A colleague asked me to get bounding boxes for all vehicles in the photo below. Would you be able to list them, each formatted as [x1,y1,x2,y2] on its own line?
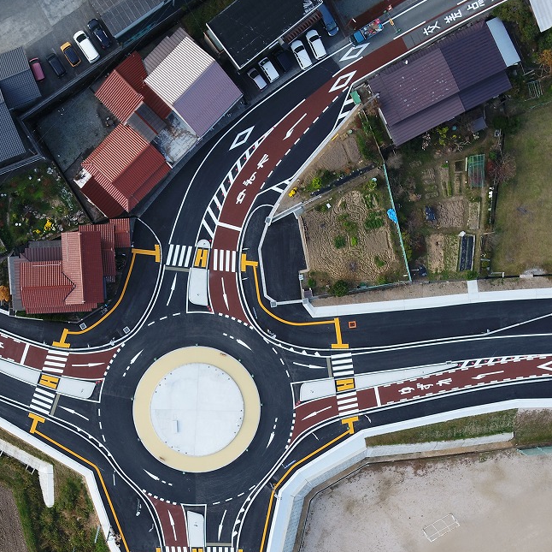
[258,58,280,85]
[317,1,340,39]
[87,16,112,53]
[289,40,313,74]
[28,57,45,85]
[246,67,269,93]
[349,18,385,46]
[61,42,80,70]
[304,29,327,63]
[73,28,101,67]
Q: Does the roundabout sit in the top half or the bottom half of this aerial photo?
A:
bottom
